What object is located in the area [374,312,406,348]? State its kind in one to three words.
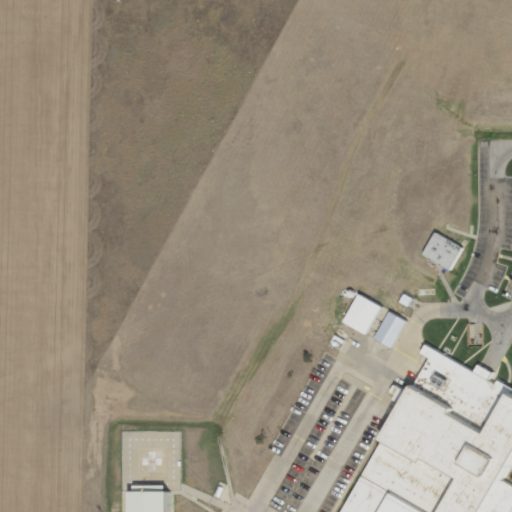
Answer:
shed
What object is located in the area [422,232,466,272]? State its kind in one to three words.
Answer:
building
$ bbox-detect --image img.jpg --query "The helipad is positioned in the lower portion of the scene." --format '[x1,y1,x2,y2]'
[122,431,182,491]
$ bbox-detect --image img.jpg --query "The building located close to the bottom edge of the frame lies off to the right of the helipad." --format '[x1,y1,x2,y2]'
[338,344,512,512]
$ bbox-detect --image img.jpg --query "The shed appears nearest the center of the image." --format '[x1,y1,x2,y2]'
[343,294,382,334]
